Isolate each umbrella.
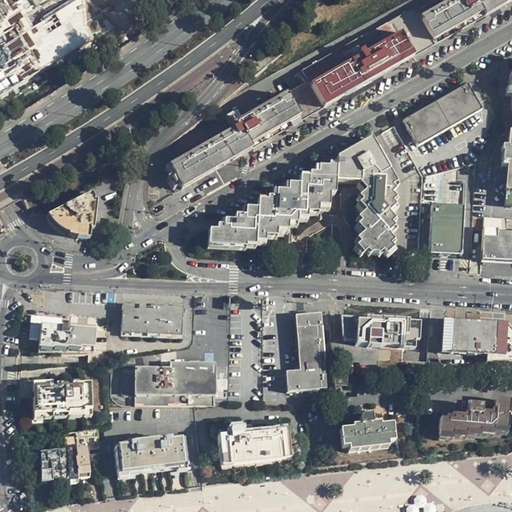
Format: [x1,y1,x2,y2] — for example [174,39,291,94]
[424,502,436,512]
[414,494,426,506]
[406,503,418,512]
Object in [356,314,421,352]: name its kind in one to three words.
house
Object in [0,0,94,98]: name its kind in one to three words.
building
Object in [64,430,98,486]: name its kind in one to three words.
house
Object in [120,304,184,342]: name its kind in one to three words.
building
